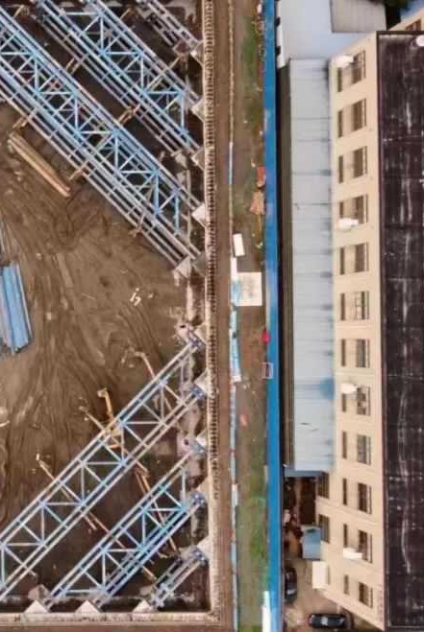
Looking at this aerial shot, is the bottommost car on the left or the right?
right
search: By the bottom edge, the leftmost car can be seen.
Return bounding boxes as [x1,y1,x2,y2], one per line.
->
[281,564,301,605]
